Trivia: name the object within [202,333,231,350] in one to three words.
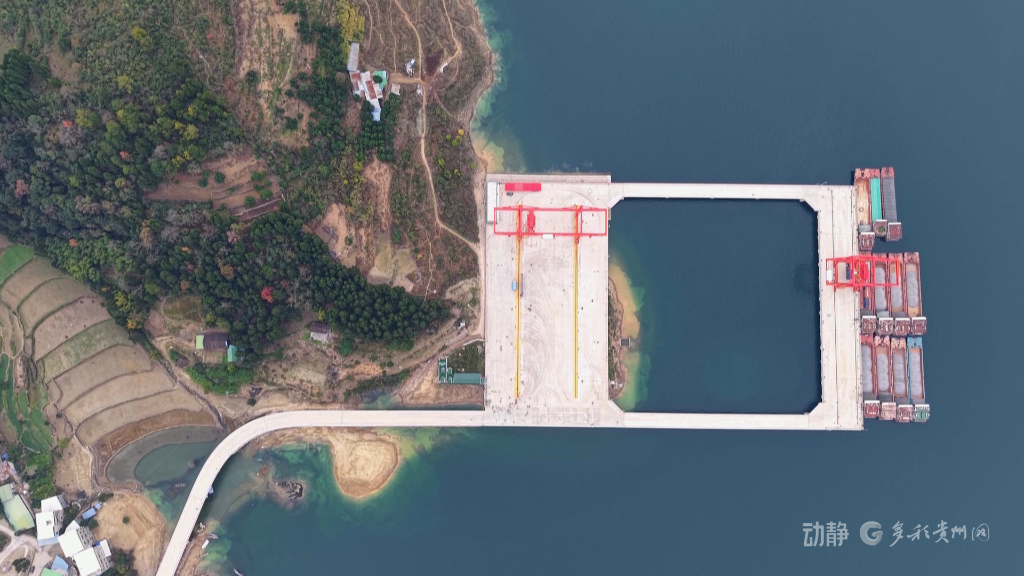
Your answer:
house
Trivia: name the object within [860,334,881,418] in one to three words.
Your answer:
ship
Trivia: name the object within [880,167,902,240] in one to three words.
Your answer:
ship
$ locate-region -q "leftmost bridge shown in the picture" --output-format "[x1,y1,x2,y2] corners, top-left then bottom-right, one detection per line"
[156,409,484,576]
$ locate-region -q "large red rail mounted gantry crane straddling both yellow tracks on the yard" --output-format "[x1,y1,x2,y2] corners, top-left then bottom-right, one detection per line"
[494,202,607,246]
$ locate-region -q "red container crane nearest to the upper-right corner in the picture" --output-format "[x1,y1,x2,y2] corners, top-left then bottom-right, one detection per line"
[825,255,901,295]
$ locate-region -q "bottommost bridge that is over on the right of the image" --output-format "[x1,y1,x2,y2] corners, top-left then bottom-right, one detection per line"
[624,413,809,429]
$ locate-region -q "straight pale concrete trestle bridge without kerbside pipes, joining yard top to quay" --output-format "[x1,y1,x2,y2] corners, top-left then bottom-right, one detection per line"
[624,183,803,201]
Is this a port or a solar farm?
port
